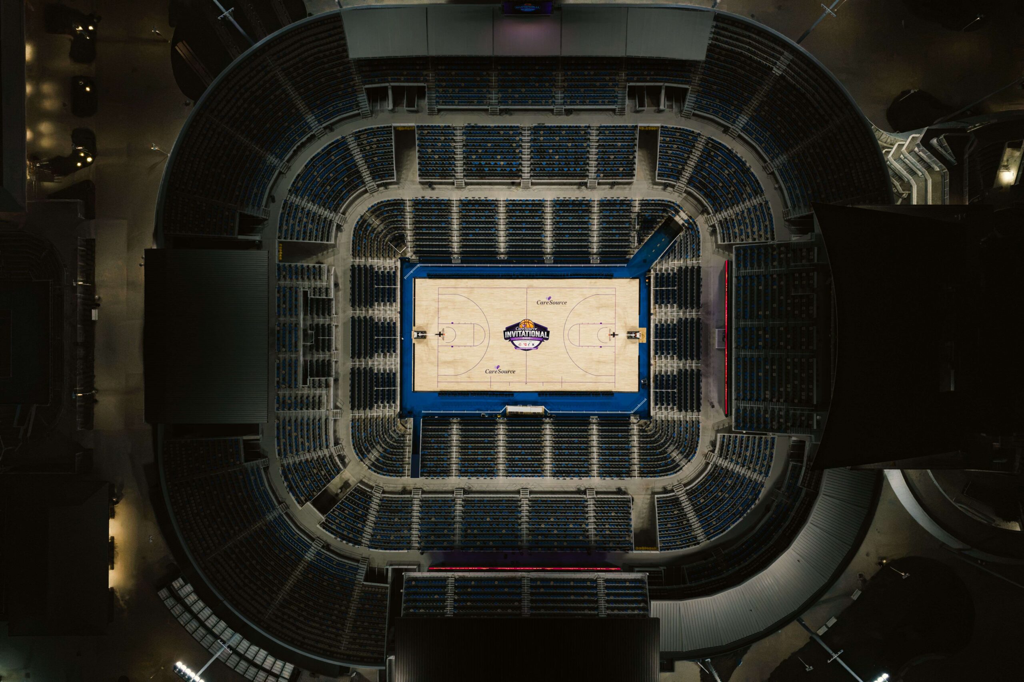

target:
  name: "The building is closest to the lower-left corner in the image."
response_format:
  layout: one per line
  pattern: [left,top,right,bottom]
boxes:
[0,476,115,637]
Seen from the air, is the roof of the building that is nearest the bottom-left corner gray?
No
